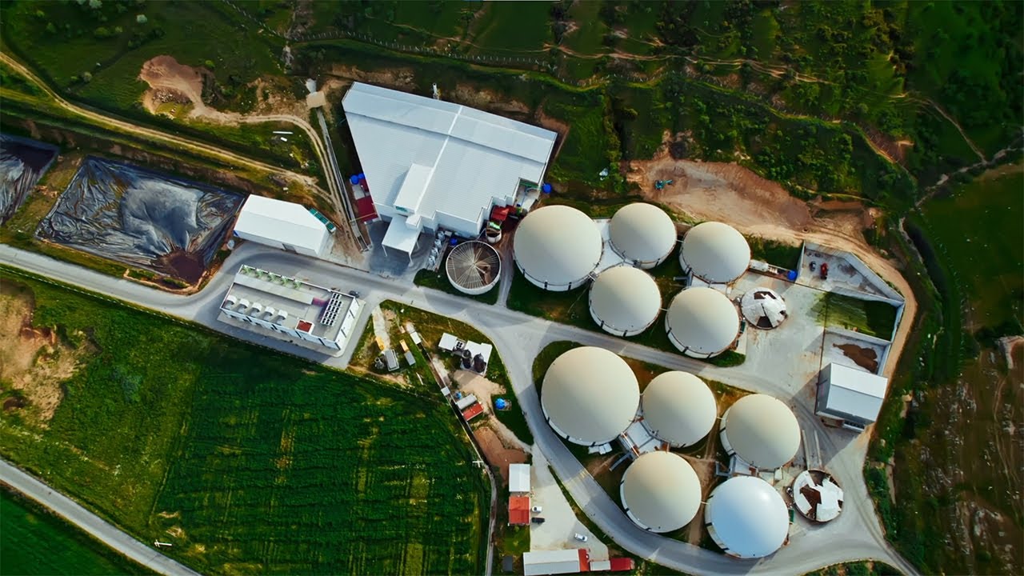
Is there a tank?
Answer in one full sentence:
Yes, the image includes a tank.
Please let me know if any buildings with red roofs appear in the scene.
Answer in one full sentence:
Yes, the picture does show a building with a red roof.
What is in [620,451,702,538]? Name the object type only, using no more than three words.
storage tank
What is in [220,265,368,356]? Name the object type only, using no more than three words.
building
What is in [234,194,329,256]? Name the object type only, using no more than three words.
shed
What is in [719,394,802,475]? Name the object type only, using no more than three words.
storage tank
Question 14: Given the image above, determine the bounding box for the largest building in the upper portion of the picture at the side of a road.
[342,81,557,235]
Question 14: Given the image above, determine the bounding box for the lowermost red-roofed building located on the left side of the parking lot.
[509,497,529,524]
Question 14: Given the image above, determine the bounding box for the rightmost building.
[817,363,884,434]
